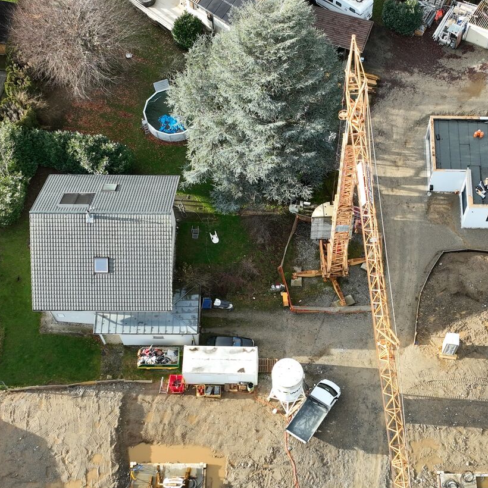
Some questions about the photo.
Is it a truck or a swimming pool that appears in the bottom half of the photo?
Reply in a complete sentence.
The one visible in the bottom half of the photo is a truck.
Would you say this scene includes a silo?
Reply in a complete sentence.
Yes, the picture does show a silo.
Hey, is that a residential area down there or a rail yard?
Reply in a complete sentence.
The picture captures a residential area.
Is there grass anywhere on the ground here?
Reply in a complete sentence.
Yes, grass can be seen from above here.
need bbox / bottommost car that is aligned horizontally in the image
[206,325,256,346]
